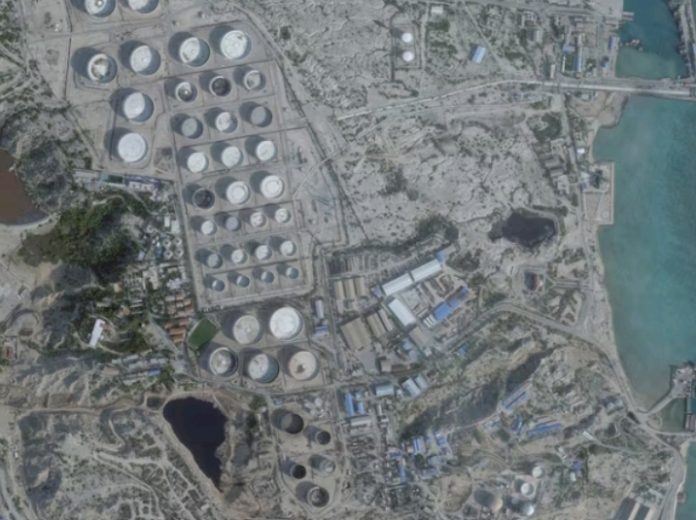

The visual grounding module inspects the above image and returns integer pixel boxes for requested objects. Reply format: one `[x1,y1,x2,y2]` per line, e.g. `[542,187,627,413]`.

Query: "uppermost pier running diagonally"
[640,361,696,413]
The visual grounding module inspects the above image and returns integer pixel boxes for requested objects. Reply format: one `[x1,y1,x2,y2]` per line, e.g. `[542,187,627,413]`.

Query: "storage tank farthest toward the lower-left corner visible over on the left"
[209,347,240,377]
